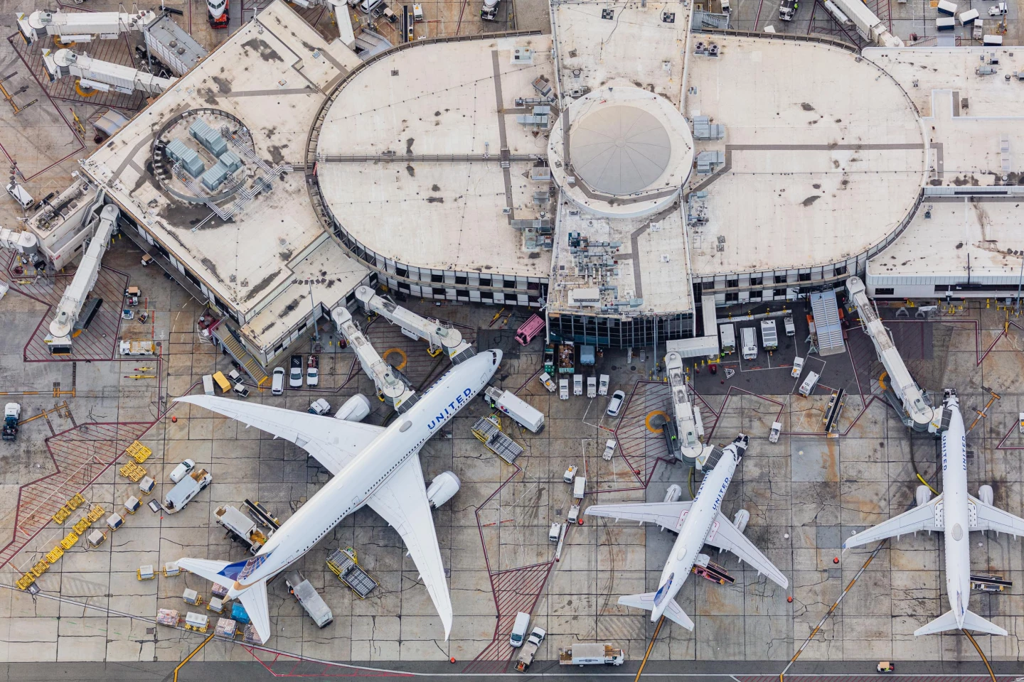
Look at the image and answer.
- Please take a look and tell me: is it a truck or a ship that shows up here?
truck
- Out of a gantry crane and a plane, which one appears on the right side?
plane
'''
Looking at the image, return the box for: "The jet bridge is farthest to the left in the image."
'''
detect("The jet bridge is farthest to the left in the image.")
[0,228,39,264]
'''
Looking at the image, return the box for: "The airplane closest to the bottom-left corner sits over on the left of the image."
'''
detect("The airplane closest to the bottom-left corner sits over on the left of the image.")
[172,346,503,645]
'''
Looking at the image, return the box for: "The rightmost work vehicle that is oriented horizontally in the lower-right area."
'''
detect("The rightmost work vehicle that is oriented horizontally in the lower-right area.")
[972,577,1013,591]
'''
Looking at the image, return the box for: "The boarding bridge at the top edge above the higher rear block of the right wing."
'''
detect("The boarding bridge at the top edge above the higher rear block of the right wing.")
[814,0,908,45]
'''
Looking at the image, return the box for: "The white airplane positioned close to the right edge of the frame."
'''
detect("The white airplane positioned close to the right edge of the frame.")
[846,390,1024,633]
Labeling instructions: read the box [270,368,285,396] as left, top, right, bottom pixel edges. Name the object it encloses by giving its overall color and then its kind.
white car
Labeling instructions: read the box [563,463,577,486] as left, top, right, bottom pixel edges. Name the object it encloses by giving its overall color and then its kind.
white work vehicle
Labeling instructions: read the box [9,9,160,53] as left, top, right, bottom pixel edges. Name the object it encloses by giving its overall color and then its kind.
white jet bridge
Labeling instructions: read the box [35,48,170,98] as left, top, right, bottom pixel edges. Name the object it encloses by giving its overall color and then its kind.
white jet bridge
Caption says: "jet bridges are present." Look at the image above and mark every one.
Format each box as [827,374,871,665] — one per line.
[355,286,480,362]
[35,48,170,98]
[843,278,951,435]
[287,0,348,14]
[9,9,160,53]
[0,228,39,264]
[39,205,121,361]
[656,350,724,475]
[332,308,420,414]
[814,0,908,45]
